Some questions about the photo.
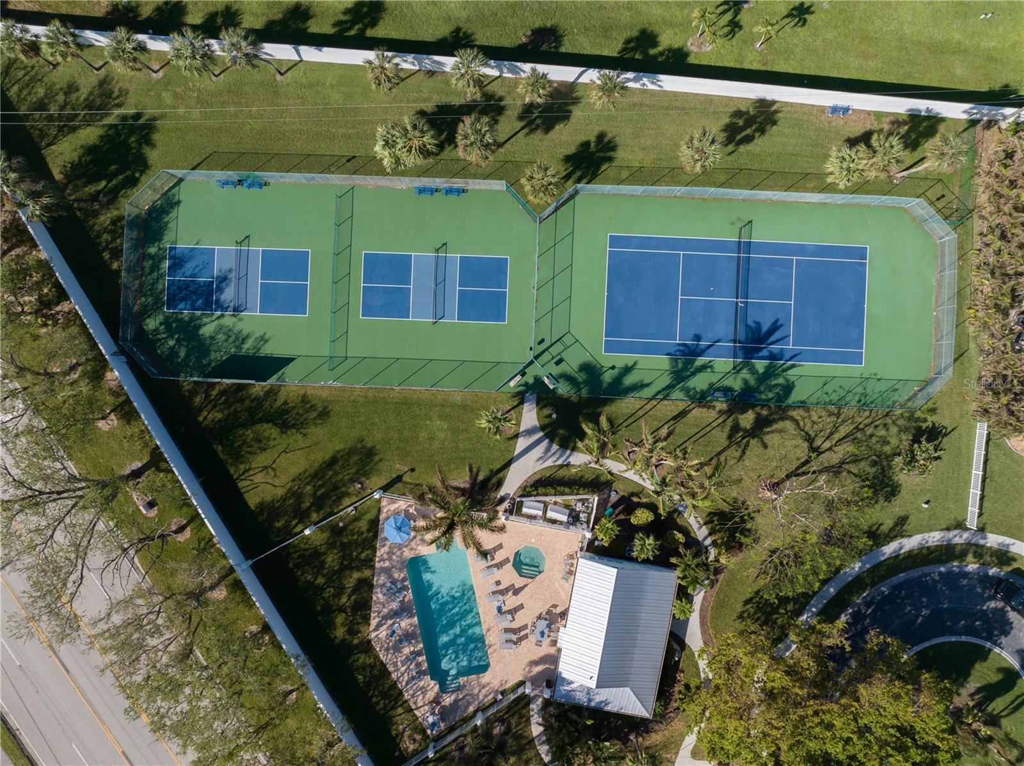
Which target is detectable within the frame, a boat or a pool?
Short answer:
pool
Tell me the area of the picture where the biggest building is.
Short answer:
bottom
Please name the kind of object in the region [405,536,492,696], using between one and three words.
swimming pool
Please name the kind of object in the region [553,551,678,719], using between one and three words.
building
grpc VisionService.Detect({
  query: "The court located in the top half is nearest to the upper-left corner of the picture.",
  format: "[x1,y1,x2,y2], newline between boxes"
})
[138,181,340,388]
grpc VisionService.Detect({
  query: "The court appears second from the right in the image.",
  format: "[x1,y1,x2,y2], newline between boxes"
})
[332,186,536,392]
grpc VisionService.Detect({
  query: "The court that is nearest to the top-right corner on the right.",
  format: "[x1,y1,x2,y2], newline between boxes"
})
[532,193,936,408]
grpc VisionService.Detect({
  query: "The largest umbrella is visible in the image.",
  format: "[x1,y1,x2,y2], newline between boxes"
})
[385,516,411,543]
